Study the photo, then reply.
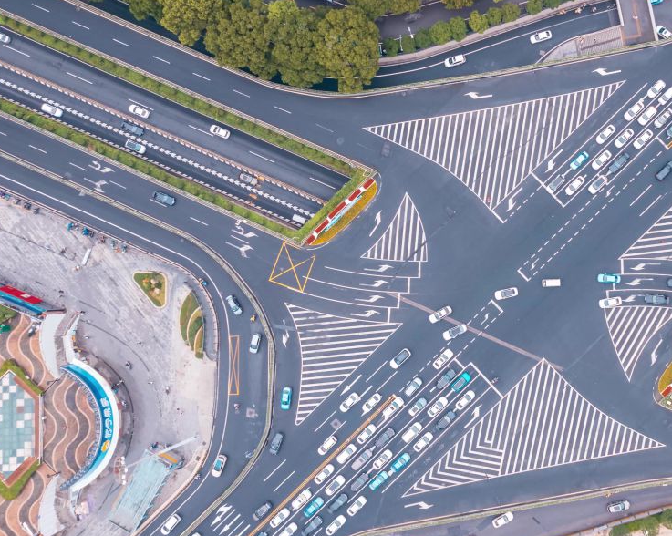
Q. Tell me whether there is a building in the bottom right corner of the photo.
No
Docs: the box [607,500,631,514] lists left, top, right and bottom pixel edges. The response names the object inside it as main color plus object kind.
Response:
white car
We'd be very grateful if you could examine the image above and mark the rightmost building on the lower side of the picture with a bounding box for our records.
[58,357,124,494]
